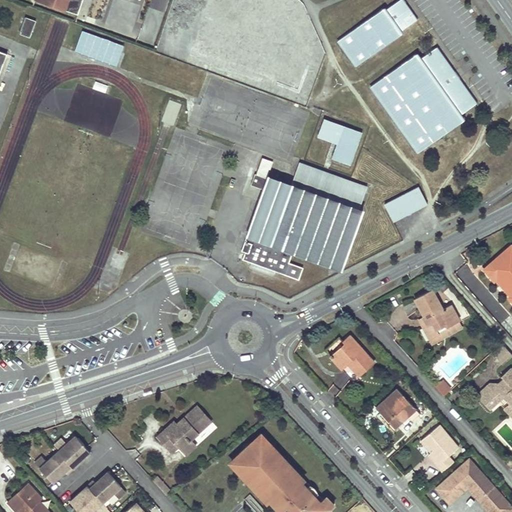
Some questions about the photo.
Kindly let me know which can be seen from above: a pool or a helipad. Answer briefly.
pool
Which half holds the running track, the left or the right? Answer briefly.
left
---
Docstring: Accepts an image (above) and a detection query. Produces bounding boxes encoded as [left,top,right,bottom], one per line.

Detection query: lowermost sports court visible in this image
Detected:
[142,127,228,251]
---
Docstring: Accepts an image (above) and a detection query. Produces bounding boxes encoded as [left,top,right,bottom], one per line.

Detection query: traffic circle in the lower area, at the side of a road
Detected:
[206,298,284,376]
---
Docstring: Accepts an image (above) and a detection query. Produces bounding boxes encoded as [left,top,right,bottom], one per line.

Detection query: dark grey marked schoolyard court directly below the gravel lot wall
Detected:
[195,80,301,150]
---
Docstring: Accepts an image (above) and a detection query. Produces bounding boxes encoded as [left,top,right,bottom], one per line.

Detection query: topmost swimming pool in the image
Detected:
[434,346,474,383]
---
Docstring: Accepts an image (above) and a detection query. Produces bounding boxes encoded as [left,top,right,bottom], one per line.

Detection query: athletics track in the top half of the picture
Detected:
[0,20,150,312]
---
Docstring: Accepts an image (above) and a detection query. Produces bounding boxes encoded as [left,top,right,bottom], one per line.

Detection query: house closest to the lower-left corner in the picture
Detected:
[8,482,52,512]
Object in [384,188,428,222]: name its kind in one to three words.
shed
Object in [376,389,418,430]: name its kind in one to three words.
house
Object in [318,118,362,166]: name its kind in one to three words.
building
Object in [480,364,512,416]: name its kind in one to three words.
house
